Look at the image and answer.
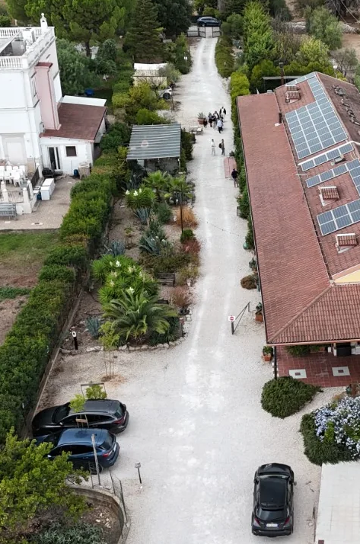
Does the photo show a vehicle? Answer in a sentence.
Yes, looking at the shot, I can spot a vehicle.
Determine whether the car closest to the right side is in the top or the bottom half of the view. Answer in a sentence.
It is in the bottom half that the car closest to the right side appears.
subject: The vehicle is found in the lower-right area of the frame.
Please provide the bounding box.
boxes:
[247,467,296,538]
